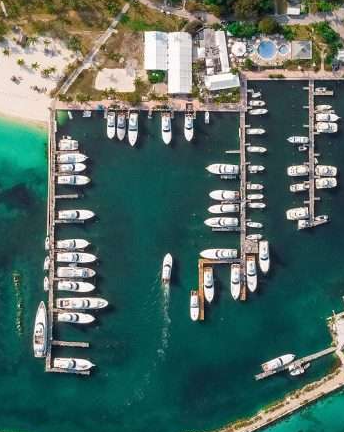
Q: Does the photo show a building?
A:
Yes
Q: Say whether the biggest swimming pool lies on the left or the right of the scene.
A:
right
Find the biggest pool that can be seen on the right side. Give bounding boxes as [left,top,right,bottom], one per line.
[256,39,277,60]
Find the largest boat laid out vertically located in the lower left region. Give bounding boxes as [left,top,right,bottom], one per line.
[32,302,46,358]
